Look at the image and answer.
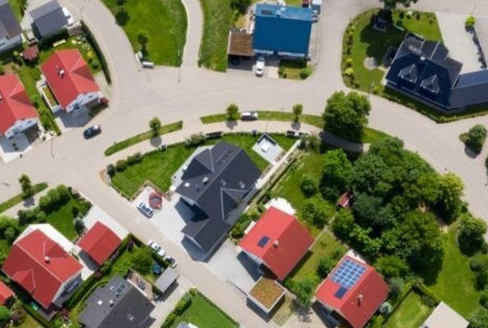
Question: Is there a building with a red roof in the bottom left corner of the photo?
Yes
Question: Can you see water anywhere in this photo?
No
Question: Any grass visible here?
Yes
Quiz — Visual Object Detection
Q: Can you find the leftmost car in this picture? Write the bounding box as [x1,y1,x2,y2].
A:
[83,126,101,138]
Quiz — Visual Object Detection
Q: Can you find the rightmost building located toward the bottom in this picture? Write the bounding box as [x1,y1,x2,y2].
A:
[425,305,469,328]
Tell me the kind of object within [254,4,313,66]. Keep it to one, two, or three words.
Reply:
house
